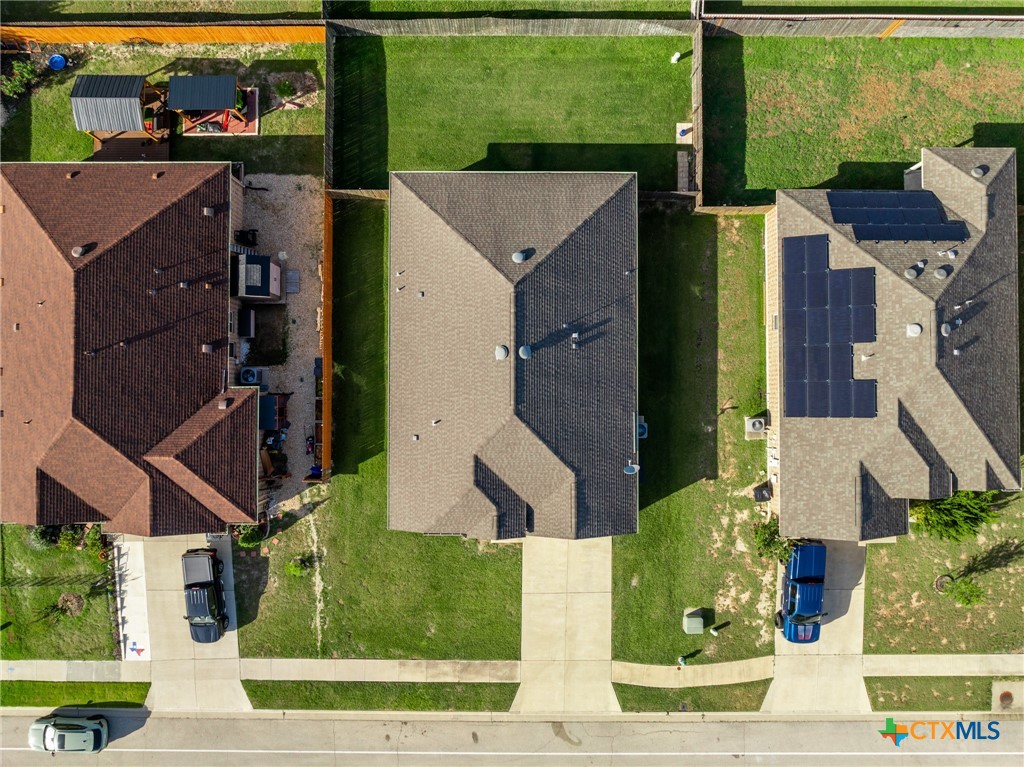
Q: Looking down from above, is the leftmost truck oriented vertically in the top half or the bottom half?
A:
bottom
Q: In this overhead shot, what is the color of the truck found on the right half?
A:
blue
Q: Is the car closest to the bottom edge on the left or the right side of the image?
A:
left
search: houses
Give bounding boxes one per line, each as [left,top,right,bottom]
[0,155,268,537]
[389,172,639,542]
[763,147,1019,540]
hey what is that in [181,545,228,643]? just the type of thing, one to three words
truck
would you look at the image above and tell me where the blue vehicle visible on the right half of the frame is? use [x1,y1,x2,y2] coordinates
[776,536,829,644]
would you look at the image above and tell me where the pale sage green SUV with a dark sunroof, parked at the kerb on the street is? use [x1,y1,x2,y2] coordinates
[29,713,108,757]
